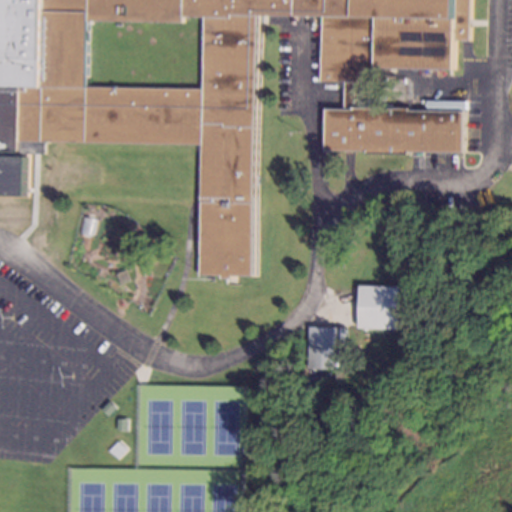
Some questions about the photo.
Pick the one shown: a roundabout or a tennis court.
tennis court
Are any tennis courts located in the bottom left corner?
Yes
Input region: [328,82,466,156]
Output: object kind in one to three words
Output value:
building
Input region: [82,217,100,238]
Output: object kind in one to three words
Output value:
greenhouse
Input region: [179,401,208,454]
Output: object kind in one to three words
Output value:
tennis court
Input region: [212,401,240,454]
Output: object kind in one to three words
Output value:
tennis court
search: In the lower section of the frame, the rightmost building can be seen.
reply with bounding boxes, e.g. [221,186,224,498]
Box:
[358,286,404,331]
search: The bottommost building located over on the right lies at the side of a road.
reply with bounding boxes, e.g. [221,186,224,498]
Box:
[308,326,347,372]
